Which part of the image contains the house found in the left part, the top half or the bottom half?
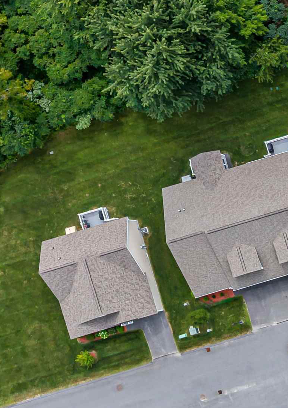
bottom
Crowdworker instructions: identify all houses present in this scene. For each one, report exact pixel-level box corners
[38,208,160,339]
[164,135,288,298]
